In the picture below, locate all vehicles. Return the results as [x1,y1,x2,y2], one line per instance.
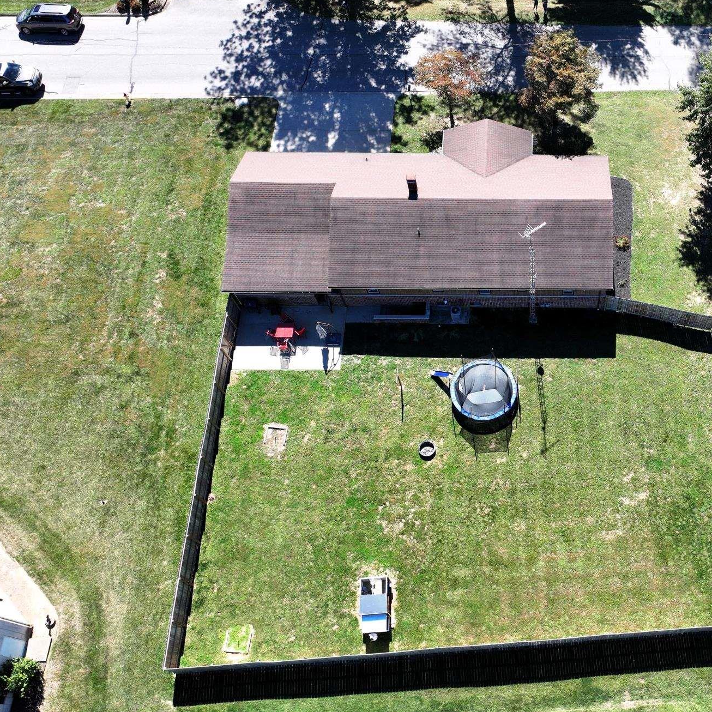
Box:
[11,7,88,43]
[0,63,50,97]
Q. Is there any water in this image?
No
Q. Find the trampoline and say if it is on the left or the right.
right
